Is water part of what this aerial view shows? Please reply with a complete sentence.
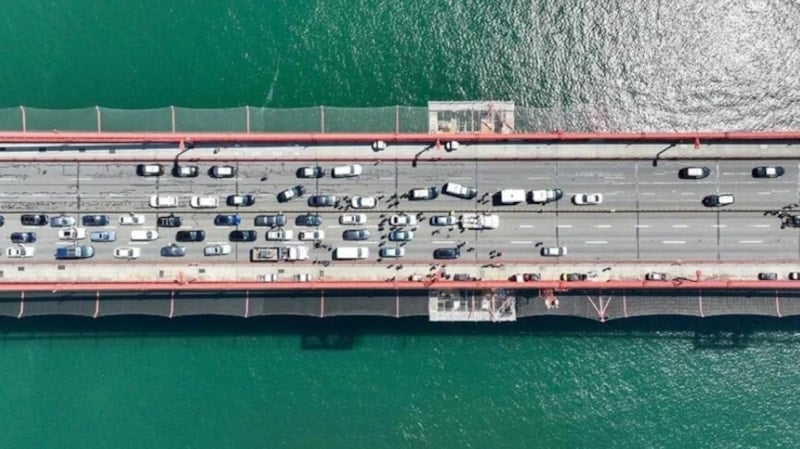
Yes, water can be seen from above here.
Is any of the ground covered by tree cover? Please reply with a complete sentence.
No, tree cover can't be seen anywhere here.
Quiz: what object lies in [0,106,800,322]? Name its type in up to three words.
bridge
